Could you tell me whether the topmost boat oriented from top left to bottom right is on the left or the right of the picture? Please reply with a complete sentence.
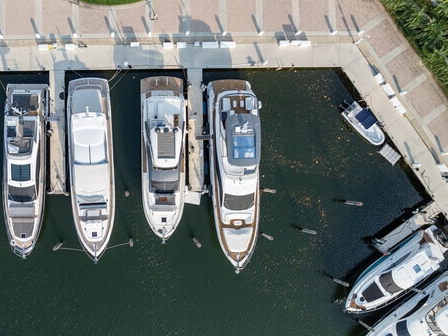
You can find the topmost boat oriented from top left to bottom right on the right side of the picture.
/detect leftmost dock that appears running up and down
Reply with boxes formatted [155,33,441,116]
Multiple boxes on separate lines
[49,72,69,192]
